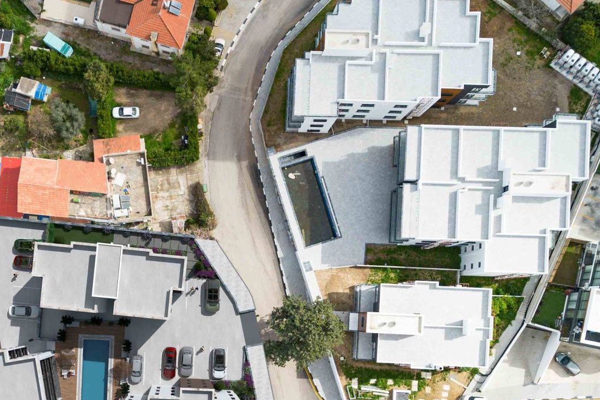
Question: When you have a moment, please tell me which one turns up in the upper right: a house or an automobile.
house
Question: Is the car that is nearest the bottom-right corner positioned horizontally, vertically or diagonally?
diagonally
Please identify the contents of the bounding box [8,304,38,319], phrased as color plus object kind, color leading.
gray car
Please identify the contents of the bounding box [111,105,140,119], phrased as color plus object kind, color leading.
white car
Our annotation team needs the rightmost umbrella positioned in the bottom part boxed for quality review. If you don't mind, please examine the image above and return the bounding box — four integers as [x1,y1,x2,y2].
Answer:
[112,361,131,379]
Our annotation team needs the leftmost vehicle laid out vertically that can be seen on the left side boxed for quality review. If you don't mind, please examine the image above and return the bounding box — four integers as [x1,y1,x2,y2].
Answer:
[130,354,144,385]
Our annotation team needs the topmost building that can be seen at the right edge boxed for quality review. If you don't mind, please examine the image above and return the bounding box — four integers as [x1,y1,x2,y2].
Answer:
[530,0,583,27]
